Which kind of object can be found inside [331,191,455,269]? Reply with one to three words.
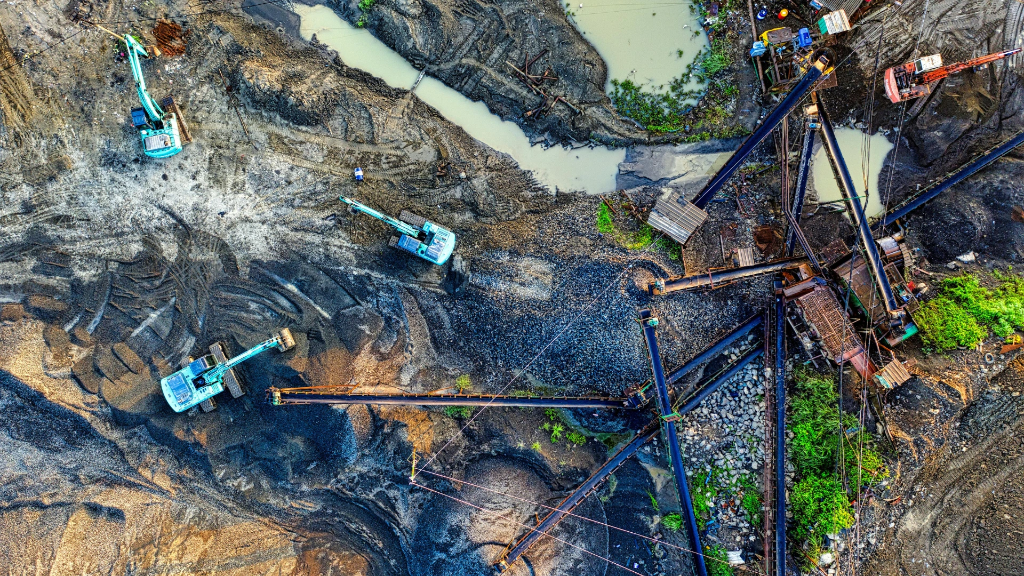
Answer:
work vehicle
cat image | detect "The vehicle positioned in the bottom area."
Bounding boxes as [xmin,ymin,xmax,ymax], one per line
[163,322,300,419]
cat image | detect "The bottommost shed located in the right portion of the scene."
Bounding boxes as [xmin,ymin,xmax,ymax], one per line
[647,192,709,246]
